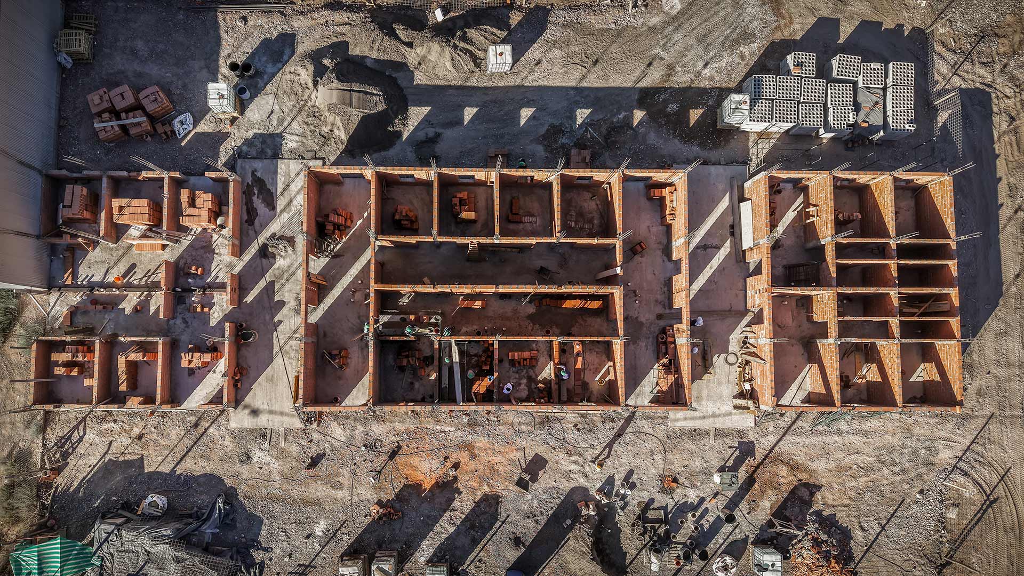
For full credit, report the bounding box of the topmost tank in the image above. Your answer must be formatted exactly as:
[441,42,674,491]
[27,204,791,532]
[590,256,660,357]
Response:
[488,44,513,74]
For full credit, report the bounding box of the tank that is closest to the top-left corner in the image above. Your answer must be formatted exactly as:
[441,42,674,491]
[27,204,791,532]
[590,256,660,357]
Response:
[207,79,238,111]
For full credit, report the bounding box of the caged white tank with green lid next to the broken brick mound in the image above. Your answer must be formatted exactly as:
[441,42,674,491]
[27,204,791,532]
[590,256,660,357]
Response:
[750,542,781,574]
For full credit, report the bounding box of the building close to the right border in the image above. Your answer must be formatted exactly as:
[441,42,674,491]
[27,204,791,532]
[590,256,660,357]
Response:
[746,161,979,413]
